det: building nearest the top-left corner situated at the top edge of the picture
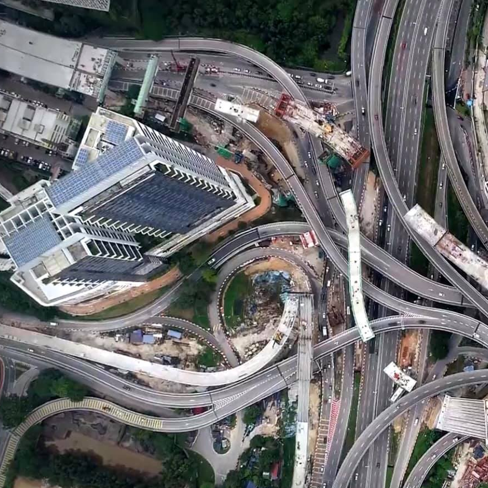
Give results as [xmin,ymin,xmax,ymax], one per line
[0,0,61,20]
